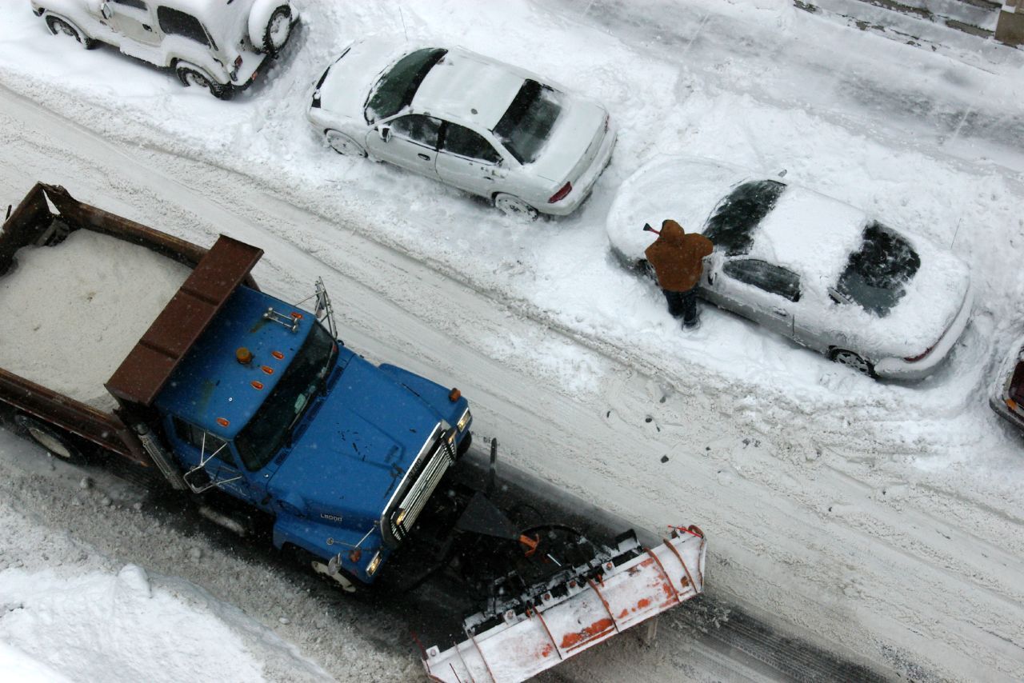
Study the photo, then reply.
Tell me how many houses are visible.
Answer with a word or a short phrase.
none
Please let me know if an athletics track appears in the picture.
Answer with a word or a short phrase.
No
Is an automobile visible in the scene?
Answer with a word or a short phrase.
Yes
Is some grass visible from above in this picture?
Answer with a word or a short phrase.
No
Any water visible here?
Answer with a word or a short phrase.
No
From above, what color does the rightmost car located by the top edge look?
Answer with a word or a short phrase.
white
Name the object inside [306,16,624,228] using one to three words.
car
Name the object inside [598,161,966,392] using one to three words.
car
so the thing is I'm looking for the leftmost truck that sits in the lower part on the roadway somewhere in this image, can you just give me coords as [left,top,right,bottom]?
[0,181,702,683]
